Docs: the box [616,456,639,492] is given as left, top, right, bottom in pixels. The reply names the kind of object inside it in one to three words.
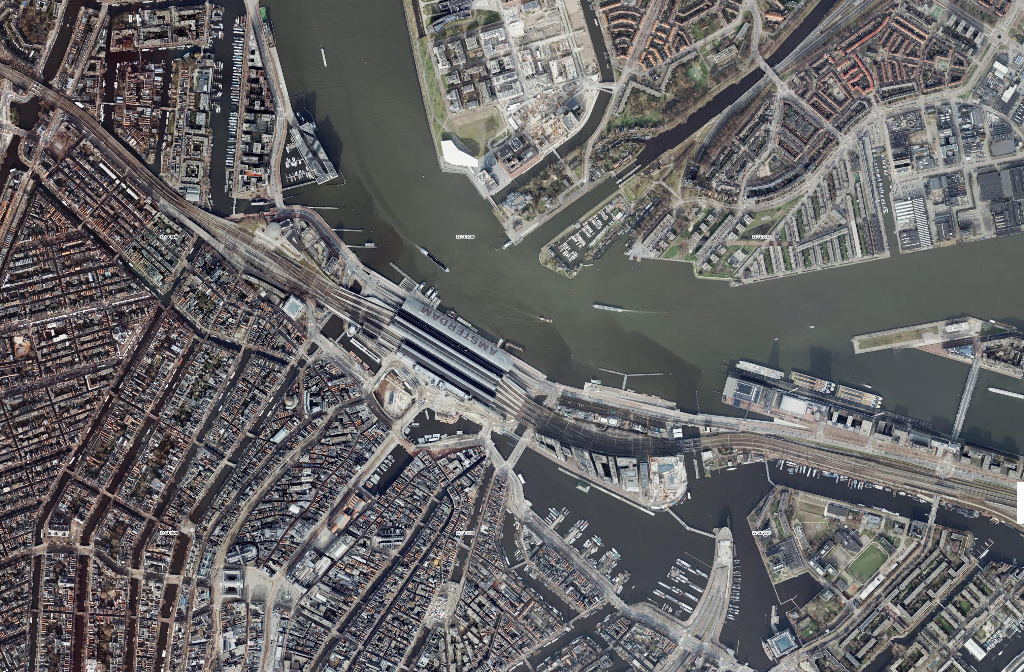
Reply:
building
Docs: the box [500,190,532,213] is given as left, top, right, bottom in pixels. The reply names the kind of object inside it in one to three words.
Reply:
house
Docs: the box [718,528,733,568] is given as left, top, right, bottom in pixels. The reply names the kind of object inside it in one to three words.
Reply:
building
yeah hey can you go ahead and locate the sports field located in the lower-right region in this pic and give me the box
[848,543,888,582]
